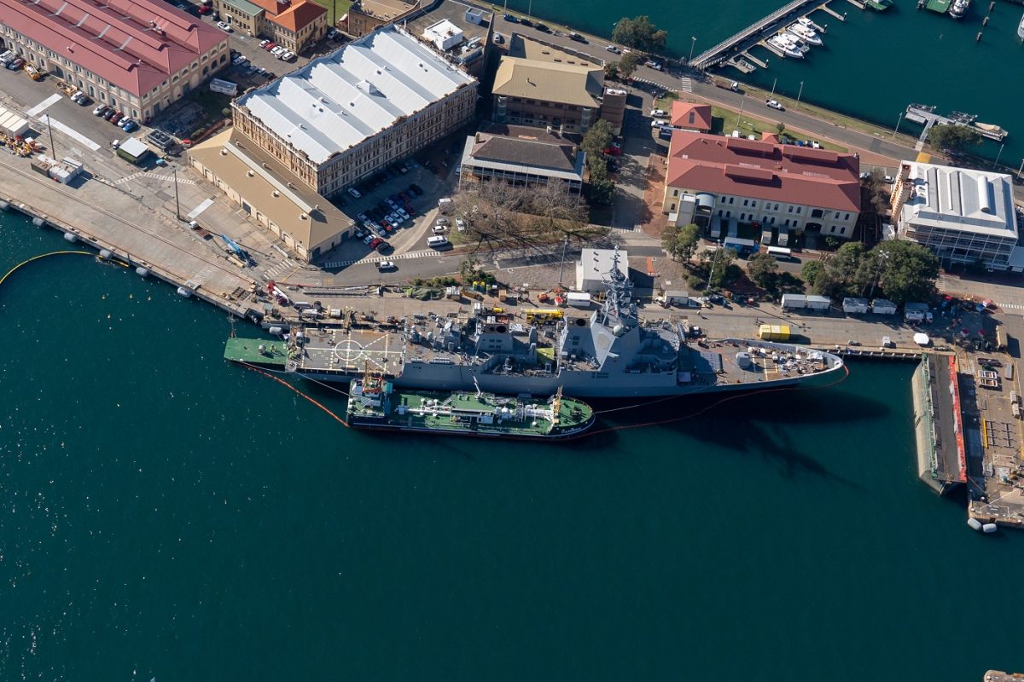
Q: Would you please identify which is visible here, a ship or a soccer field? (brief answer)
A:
ship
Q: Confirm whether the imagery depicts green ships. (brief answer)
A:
Yes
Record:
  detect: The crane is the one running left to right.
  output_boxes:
[523,309,566,322]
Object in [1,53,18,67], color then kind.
gray vehicle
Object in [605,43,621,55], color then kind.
gray vehicle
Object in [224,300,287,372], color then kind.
green ship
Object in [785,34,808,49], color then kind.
white boat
